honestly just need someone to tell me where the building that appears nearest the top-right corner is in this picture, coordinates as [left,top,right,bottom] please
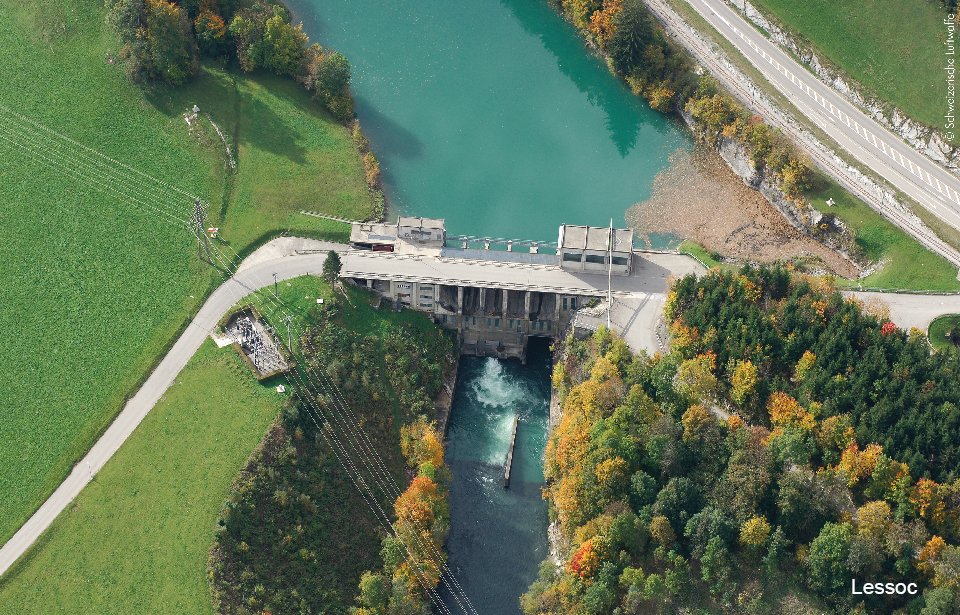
[559,223,634,276]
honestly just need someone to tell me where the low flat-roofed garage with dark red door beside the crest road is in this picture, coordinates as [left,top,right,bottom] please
[350,225,399,252]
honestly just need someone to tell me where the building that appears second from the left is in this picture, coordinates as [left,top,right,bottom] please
[398,217,448,248]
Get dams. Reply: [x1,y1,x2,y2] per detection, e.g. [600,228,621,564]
[335,230,634,368]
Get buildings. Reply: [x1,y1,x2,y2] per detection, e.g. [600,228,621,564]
[350,225,399,252]
[398,217,448,248]
[559,223,634,276]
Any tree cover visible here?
Yes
